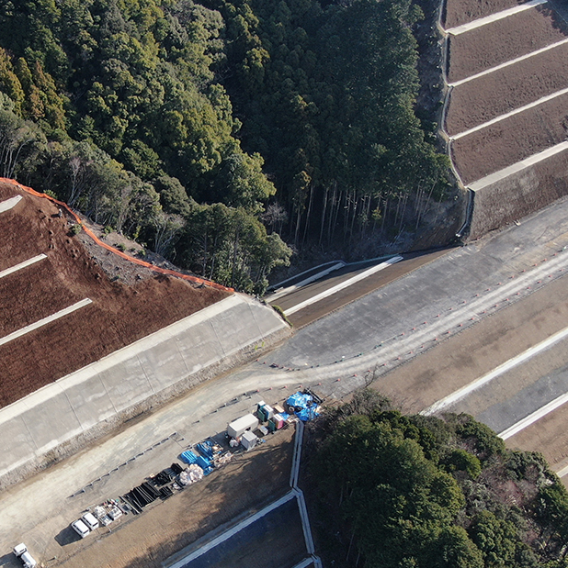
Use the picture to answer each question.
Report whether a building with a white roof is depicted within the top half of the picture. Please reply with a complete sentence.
No, within the top half of the picture there is no building with a white roof.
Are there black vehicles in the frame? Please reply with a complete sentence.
No, I can't see a single black vehicle in this photo.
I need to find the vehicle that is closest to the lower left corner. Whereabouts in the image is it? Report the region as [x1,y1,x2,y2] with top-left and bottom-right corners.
[10,540,37,568]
